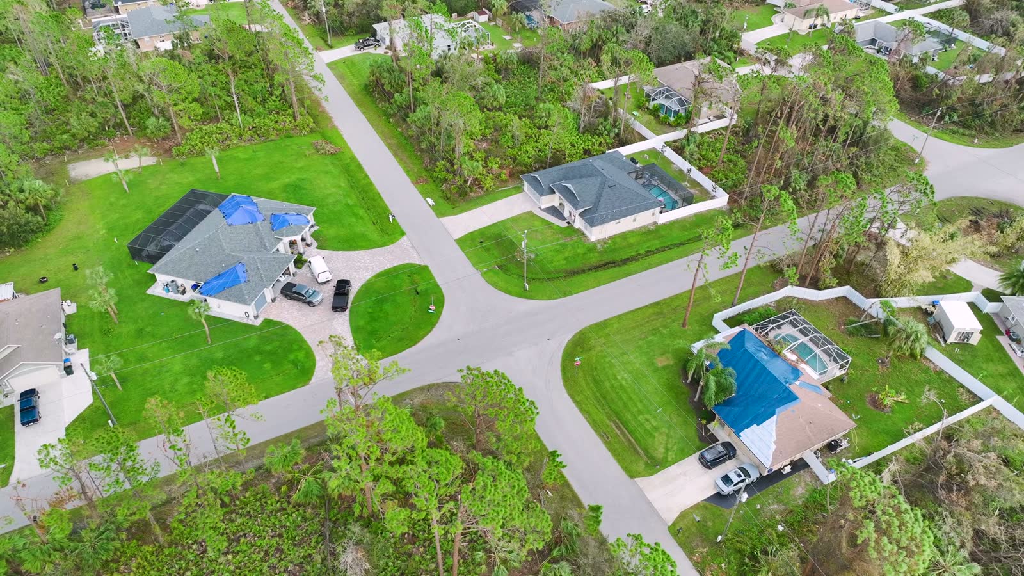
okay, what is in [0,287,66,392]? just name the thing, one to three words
house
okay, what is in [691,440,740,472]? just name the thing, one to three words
car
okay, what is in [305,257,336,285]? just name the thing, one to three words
vehicle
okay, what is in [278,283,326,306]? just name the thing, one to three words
truck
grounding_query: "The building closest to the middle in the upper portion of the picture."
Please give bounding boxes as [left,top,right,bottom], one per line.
[519,150,662,243]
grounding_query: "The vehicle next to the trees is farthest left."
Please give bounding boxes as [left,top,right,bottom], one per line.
[16,388,42,432]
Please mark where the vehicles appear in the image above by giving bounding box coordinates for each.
[331,280,352,313]
[278,283,326,306]
[16,388,42,432]
[305,257,336,285]
[354,39,377,51]
[691,440,740,472]
[709,465,763,495]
